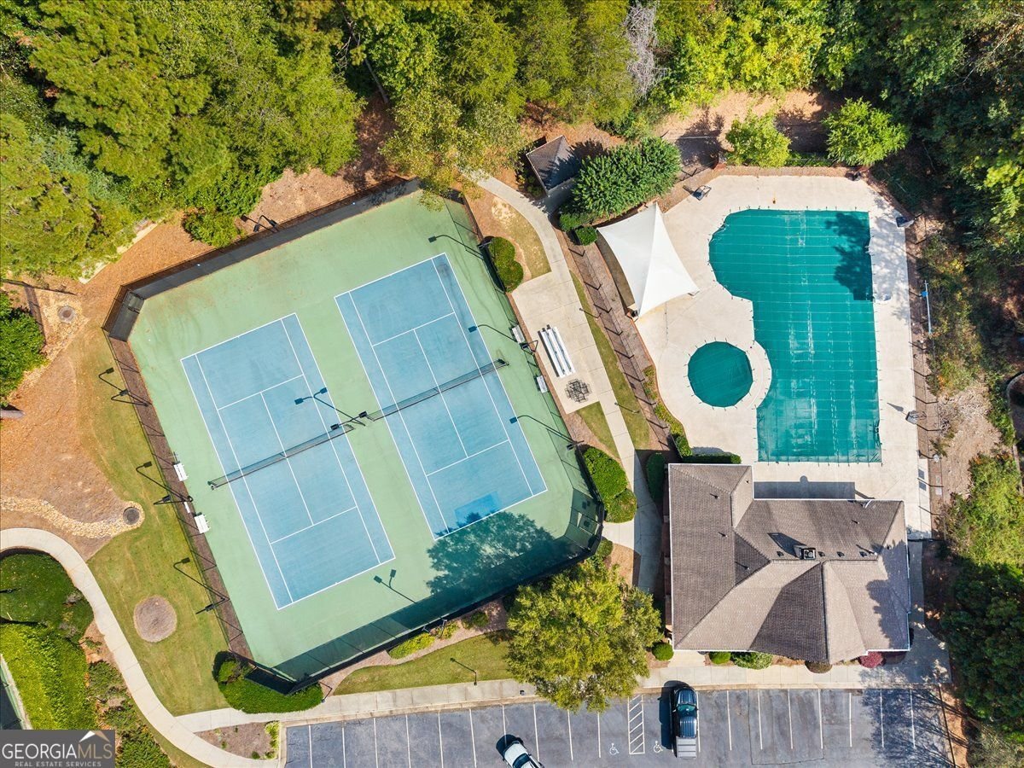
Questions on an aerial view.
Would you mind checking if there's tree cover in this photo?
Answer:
Yes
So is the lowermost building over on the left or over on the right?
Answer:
right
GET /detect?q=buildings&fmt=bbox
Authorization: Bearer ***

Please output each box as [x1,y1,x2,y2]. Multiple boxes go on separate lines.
[526,136,586,195]
[660,463,913,664]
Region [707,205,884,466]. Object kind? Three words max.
swimming pool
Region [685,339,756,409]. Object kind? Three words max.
swimming pool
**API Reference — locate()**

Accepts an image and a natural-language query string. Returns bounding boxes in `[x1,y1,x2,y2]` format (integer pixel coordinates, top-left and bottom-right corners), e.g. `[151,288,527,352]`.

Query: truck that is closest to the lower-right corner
[672,682,701,758]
